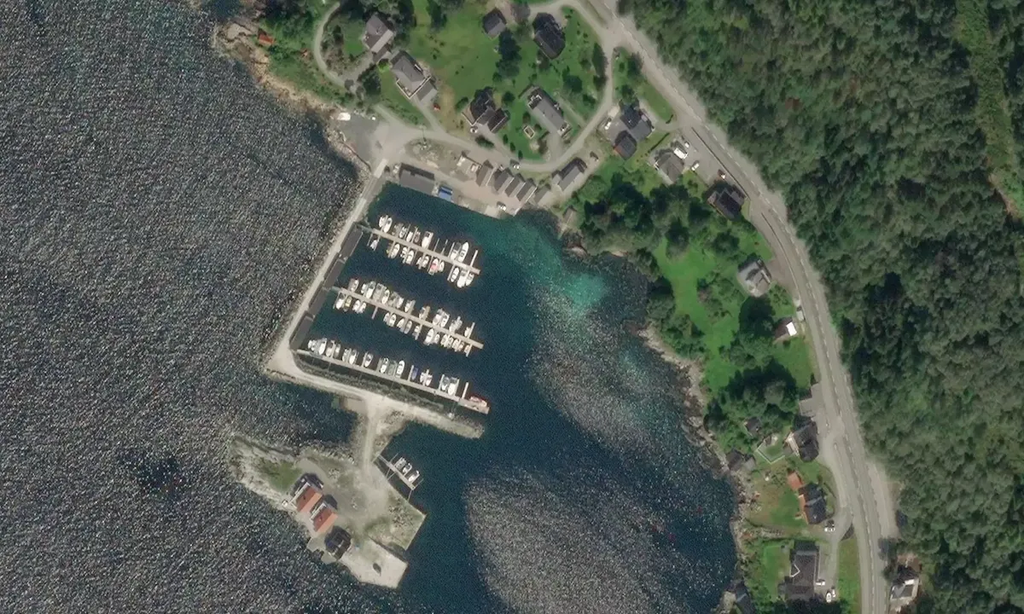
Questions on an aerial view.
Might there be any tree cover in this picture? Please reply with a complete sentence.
Yes, there is tree cover in the image.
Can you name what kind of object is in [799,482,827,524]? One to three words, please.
house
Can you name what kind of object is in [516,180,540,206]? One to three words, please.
building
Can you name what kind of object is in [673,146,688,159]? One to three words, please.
vehicle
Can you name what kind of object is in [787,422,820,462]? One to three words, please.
house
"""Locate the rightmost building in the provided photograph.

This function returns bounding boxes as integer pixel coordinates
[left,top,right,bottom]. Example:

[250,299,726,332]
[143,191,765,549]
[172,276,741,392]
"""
[890,578,919,603]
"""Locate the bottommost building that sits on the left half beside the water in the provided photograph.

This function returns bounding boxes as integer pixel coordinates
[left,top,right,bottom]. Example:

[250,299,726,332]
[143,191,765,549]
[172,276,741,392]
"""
[324,530,351,560]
